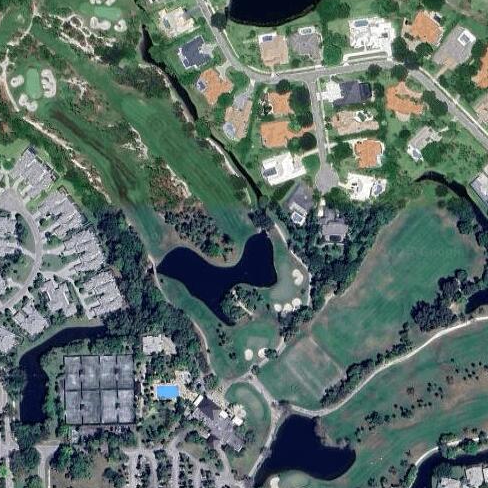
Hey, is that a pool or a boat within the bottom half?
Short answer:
pool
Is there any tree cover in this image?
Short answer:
Yes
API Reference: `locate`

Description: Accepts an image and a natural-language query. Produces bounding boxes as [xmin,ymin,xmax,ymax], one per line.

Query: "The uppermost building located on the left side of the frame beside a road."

[158,4,206,37]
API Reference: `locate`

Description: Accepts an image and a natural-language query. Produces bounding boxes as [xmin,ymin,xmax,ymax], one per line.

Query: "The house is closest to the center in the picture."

[287,183,317,228]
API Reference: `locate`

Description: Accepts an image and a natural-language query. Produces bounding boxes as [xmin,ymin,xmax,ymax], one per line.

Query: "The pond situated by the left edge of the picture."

[20,326,108,425]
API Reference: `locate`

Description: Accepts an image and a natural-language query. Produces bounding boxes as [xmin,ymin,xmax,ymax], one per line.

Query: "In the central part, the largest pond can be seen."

[158,233,276,324]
